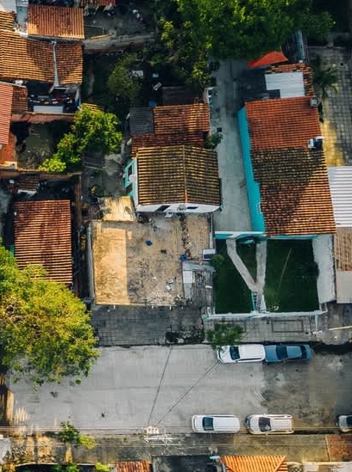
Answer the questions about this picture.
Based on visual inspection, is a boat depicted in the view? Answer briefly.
No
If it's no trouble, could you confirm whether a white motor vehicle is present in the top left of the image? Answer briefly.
No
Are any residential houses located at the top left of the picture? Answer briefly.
Yes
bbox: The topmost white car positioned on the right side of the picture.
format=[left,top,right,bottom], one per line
[214,344,265,364]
